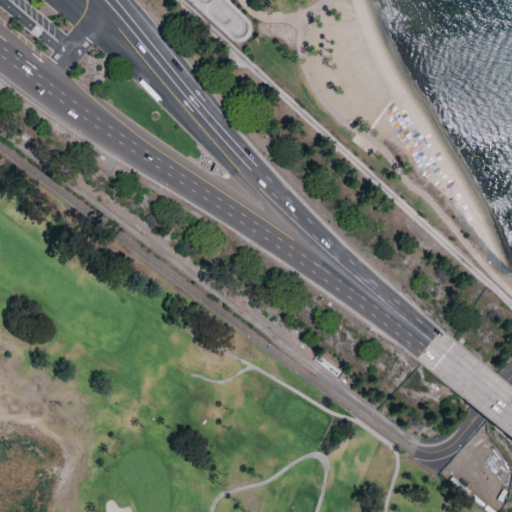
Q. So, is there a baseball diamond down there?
No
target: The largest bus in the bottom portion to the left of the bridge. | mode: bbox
[314,356,341,376]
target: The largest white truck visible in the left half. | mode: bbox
[135,76,164,103]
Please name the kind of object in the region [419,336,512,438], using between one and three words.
bridge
